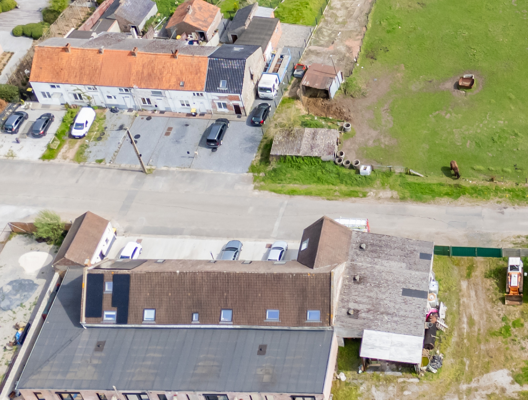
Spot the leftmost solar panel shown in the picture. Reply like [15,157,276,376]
[85,275,103,318]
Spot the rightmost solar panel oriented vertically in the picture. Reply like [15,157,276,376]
[112,275,130,324]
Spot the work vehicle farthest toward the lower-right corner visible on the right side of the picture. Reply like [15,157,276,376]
[504,255,525,305]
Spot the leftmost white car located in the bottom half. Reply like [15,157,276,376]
[116,234,146,260]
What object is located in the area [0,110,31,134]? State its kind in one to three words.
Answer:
car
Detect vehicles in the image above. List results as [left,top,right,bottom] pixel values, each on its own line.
[116,234,146,260]
[206,118,231,148]
[27,111,57,137]
[266,234,291,261]
[249,99,275,127]
[0,110,31,134]
[219,233,245,261]
[504,255,525,305]
[71,103,96,137]
[258,49,292,95]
